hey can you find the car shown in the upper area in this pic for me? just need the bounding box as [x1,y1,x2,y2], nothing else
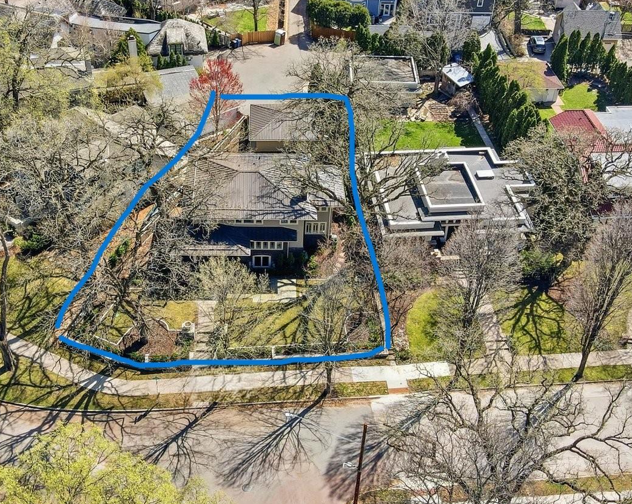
[526,38,550,51]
